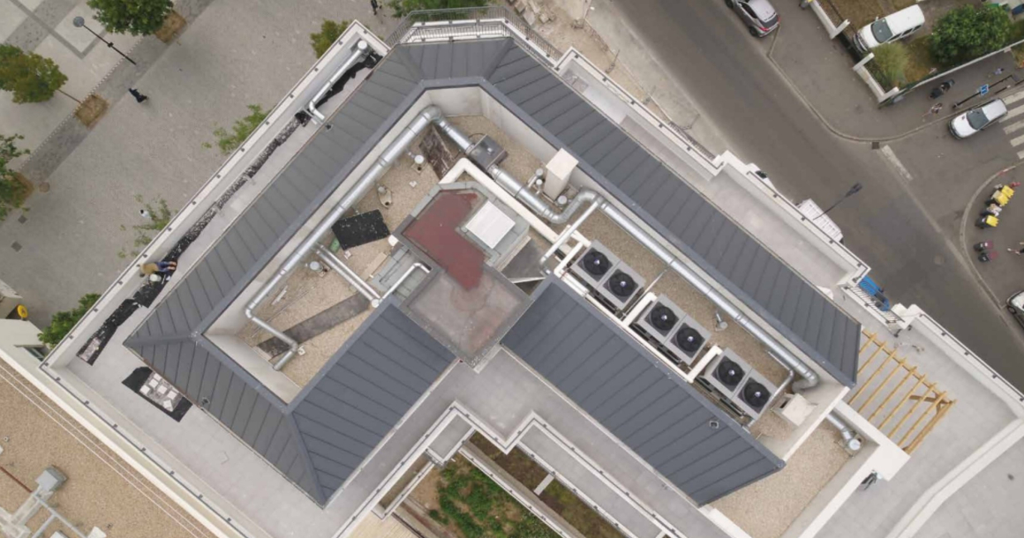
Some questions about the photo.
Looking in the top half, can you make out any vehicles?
Yes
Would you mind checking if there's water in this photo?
No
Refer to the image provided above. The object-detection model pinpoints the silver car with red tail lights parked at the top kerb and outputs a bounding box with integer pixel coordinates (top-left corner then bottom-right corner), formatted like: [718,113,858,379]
[727,0,786,43]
